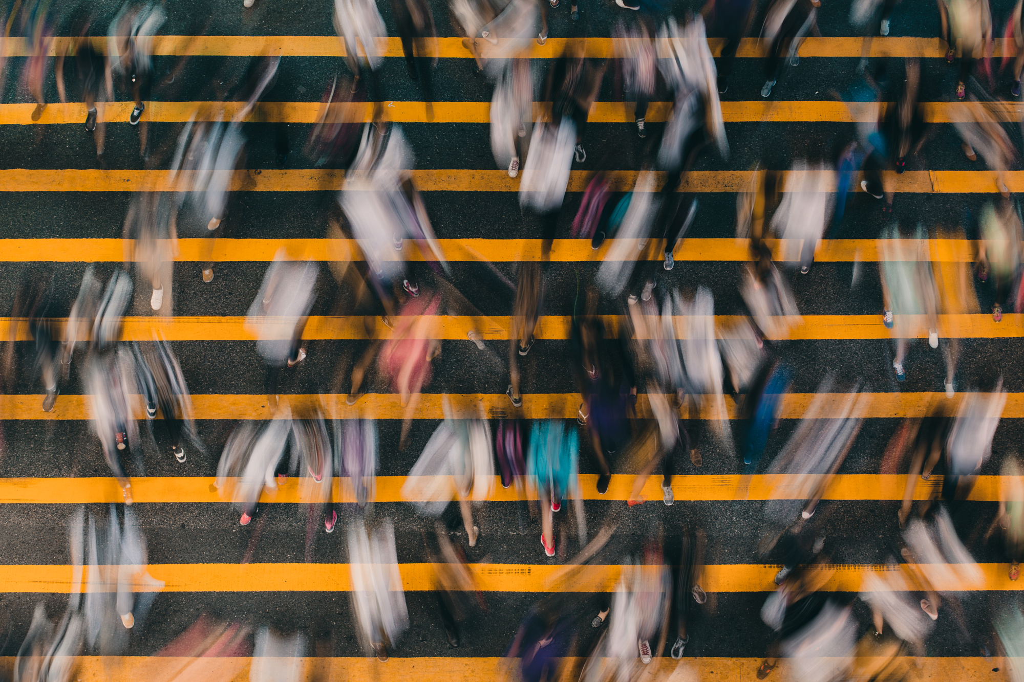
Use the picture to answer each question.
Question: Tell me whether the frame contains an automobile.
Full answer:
No, I can't see a single automobile in this photo.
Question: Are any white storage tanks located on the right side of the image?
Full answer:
No, no white storage tank appears on the right side of the image.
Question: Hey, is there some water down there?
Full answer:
No, there's no water in this view.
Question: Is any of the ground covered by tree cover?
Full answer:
No, tree cover can't be seen anywhere here.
